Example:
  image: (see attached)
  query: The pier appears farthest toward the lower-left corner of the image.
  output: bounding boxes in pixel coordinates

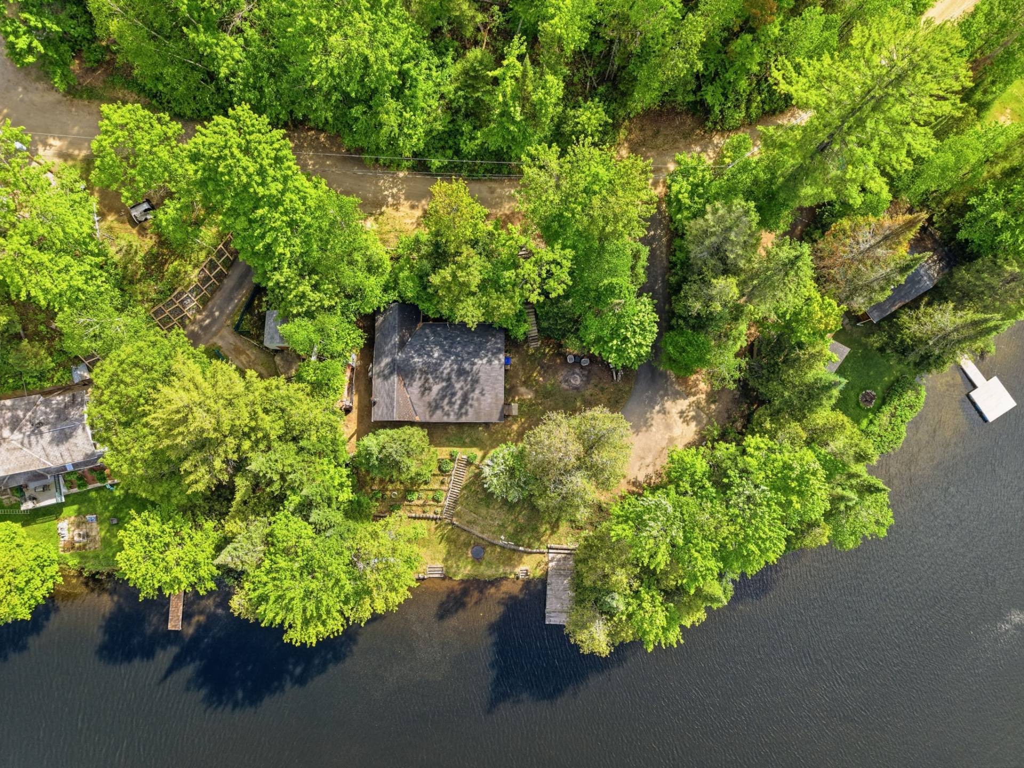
[168,581,186,631]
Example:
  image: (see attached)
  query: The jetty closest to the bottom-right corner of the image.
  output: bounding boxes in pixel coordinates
[968,376,1016,422]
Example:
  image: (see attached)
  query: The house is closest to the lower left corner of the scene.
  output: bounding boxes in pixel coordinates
[0,390,103,490]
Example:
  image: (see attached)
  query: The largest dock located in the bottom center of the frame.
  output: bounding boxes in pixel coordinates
[543,556,574,625]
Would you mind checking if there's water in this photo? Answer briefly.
Yes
